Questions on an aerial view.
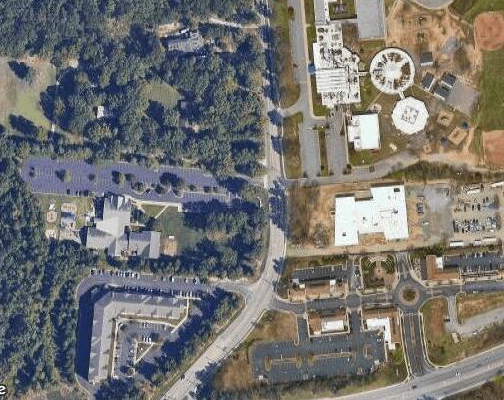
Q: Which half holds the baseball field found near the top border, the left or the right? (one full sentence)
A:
The baseball field found near the top border is on the right side of the image.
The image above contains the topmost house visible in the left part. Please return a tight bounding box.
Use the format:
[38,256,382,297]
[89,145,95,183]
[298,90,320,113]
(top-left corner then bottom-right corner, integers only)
[170,31,202,52]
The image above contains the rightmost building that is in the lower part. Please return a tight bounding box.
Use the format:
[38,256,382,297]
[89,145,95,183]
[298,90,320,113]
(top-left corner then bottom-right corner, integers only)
[427,256,460,281]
